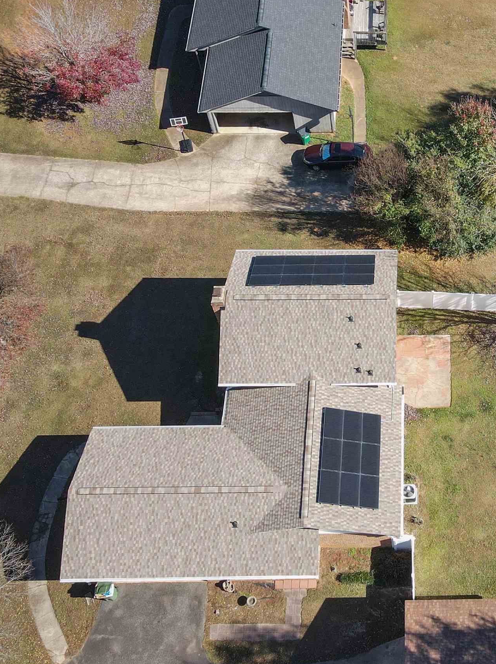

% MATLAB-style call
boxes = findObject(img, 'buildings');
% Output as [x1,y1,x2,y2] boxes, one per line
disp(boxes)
[405,598,496,664]
[60,248,407,589]
[185,0,352,131]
